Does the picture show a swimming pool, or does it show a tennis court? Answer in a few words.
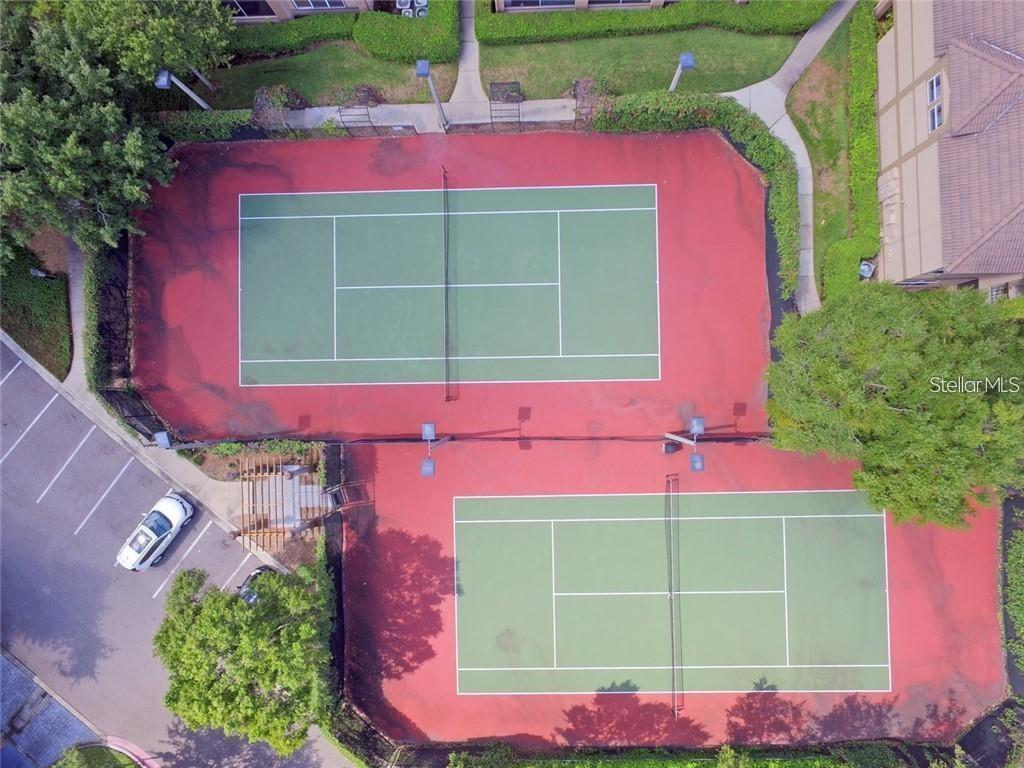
tennis court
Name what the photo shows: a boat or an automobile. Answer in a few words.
automobile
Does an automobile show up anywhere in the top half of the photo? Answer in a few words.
No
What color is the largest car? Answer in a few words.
white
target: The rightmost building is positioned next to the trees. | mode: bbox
[873,0,1024,291]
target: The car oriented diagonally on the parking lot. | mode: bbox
[119,491,192,572]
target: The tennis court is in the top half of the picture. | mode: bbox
[130,129,773,440]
